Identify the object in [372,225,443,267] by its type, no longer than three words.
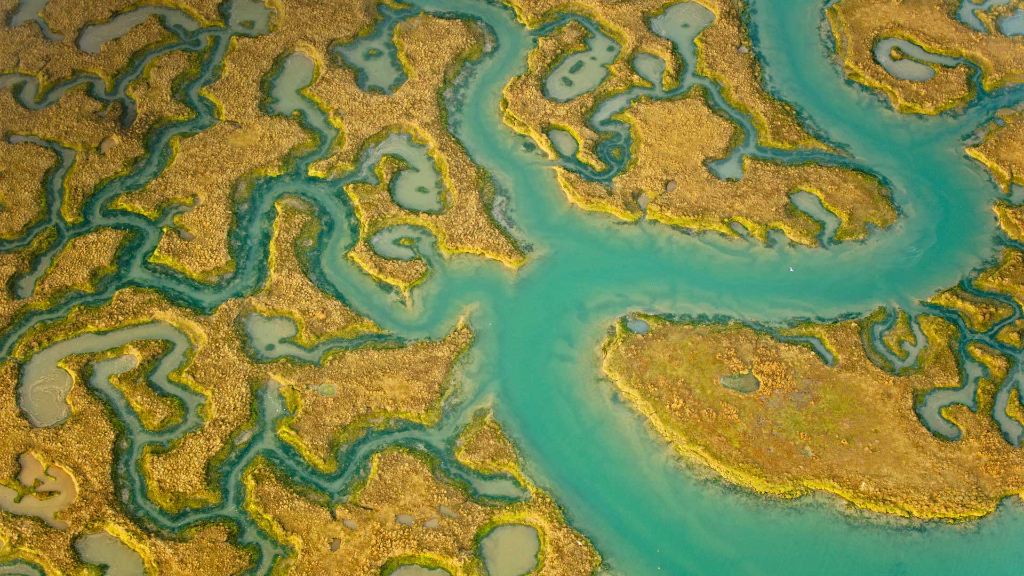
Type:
pond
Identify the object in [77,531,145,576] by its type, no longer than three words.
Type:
pond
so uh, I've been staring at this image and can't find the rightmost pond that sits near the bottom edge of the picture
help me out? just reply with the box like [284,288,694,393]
[479,525,540,576]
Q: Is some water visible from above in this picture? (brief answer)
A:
Yes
